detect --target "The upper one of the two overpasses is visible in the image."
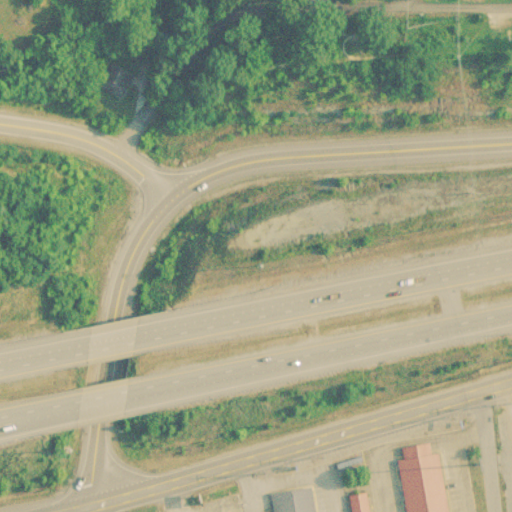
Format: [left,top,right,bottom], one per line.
[85,316,140,368]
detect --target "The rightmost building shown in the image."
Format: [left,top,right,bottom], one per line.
[399,442,446,512]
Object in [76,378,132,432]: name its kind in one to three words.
overpass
